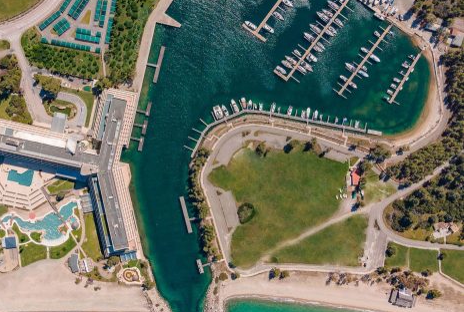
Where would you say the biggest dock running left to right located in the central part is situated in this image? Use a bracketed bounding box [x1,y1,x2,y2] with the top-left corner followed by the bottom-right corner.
[184,100,368,158]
